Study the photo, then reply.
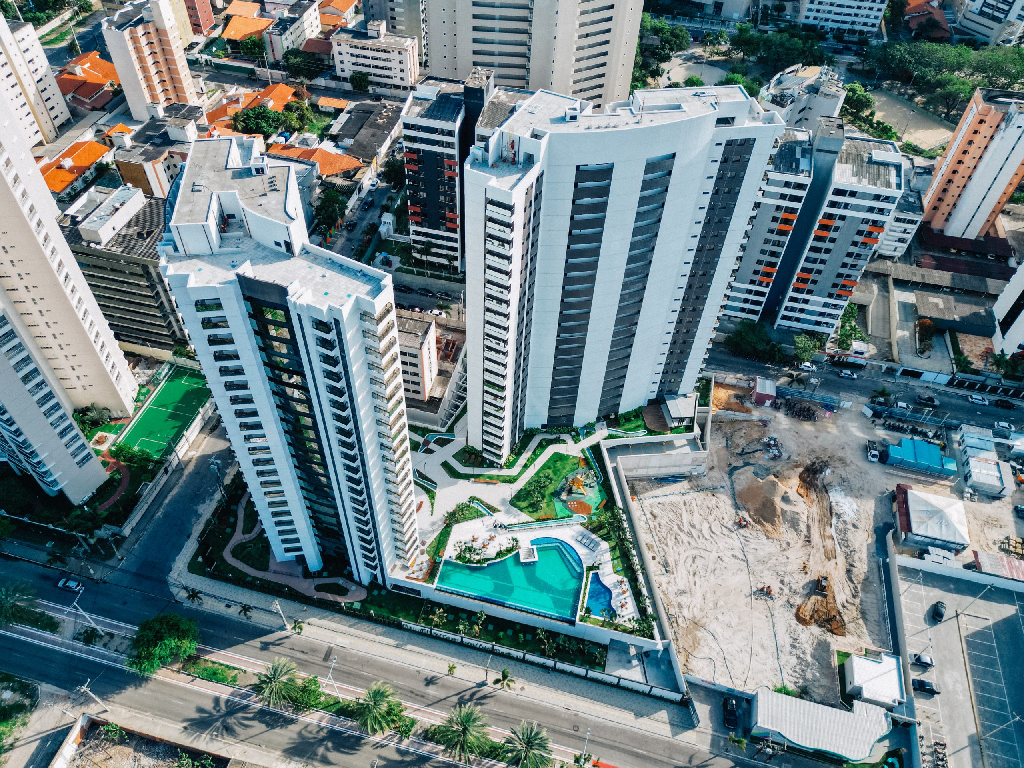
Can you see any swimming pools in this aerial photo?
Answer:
Yes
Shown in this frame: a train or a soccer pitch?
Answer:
soccer pitch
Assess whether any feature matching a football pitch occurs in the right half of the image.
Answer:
No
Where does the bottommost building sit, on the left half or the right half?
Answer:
right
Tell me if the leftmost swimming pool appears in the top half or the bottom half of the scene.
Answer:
bottom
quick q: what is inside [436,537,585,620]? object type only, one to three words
swimming pool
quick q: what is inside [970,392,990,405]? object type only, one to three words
vehicle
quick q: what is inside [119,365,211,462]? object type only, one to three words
soccer field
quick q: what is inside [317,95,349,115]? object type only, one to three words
house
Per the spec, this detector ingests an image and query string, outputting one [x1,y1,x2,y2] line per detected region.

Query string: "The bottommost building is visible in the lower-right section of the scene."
[749,689,891,768]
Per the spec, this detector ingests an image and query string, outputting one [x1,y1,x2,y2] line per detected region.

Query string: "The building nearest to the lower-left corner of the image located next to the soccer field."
[0,292,108,506]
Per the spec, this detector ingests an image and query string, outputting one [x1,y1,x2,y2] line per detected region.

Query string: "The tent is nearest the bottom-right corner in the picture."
[906,491,969,551]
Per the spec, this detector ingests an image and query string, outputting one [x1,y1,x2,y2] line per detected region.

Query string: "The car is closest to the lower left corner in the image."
[54,576,83,593]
